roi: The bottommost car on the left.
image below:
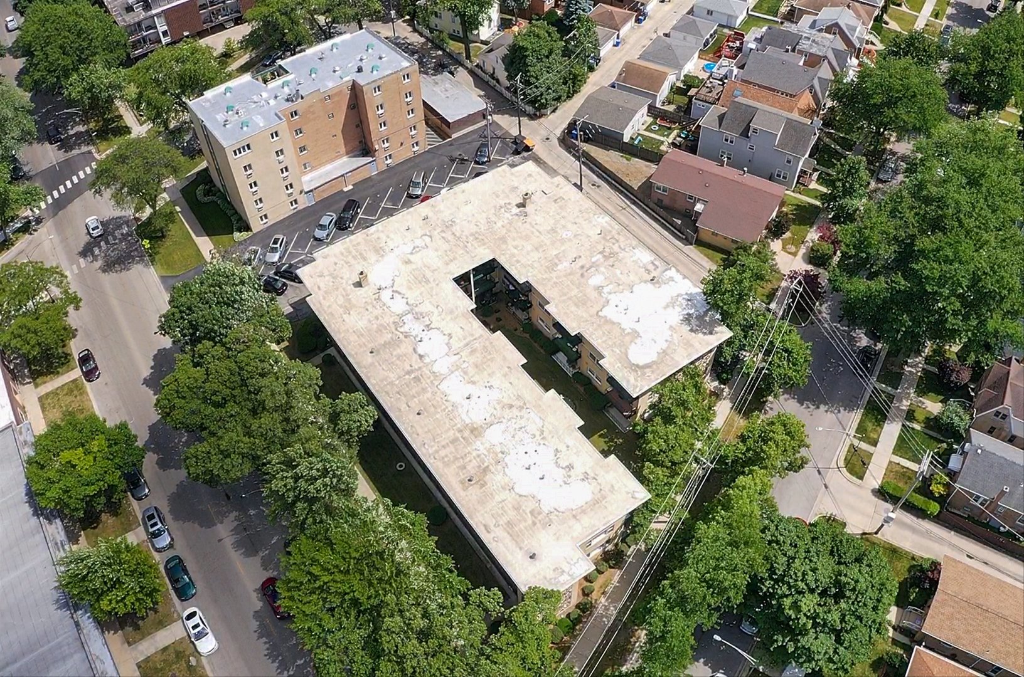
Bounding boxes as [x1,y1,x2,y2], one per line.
[181,605,219,661]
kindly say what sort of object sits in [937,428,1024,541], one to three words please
house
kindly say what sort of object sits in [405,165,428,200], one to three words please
vehicle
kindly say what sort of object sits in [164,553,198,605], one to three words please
car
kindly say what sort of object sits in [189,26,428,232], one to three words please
building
